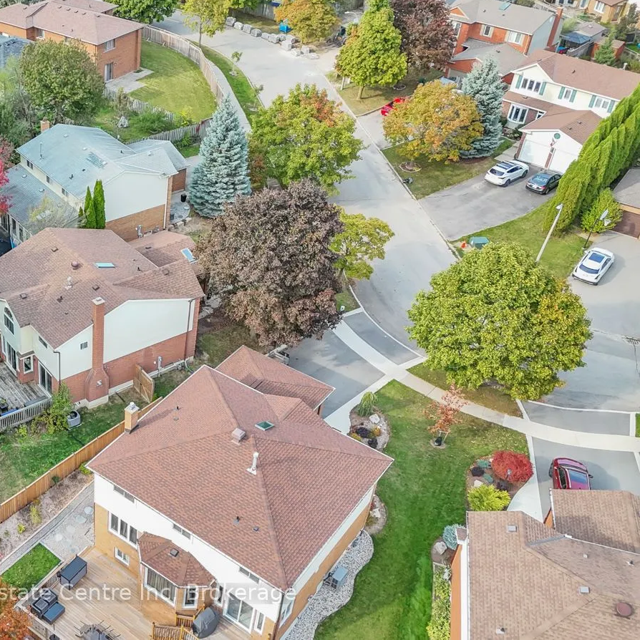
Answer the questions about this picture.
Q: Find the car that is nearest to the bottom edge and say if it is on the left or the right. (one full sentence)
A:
The car that is nearest to the bottom edge appears in the right half of the scene.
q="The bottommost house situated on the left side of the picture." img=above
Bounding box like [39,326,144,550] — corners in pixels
[84,346,395,640]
